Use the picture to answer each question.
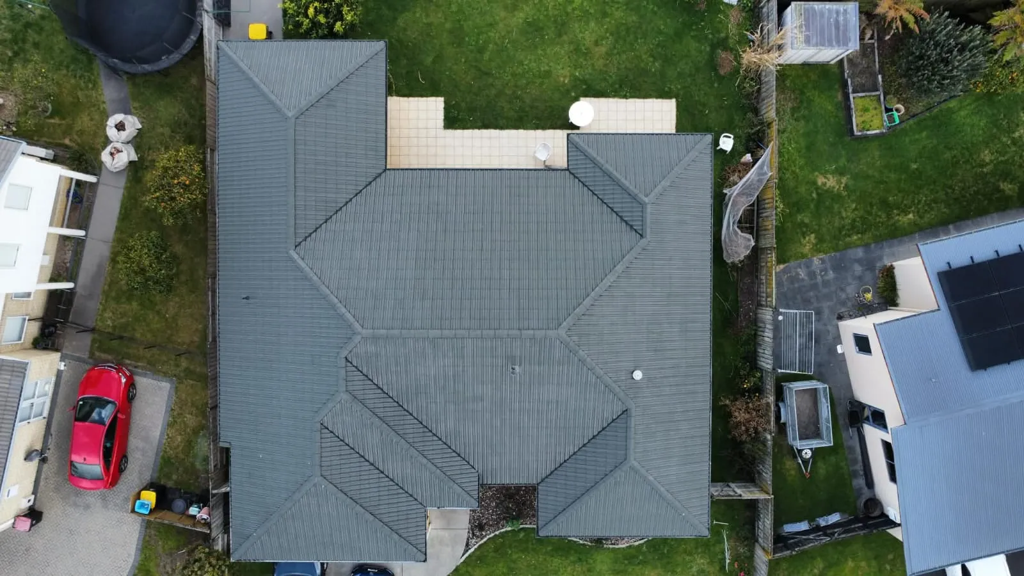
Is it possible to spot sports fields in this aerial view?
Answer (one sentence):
No, there is no sports field in the image.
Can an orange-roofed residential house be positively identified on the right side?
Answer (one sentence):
No, no orange-roofed residential house appears on the right side.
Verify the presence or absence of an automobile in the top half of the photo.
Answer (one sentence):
No, no automobile can be made out in the top half of the photo.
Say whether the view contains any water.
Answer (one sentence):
No, no water is visible.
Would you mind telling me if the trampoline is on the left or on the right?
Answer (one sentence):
You can find the trampoline on the left side of the picture.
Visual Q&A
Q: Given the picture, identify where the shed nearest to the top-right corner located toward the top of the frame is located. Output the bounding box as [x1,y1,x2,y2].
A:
[776,1,860,67]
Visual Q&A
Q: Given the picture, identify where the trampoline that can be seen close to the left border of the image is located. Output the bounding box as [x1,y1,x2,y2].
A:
[43,0,203,78]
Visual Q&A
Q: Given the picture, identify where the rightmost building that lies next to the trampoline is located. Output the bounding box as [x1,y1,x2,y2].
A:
[215,38,715,564]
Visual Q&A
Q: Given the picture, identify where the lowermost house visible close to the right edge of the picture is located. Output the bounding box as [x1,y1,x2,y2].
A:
[839,216,1024,576]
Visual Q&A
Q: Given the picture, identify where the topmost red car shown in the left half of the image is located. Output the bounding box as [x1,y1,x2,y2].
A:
[65,363,139,494]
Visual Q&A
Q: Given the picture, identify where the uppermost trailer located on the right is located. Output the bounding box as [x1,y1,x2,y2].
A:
[775,382,833,482]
